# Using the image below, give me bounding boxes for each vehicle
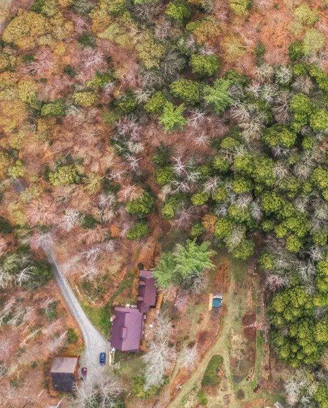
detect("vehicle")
[80,368,87,377]
[99,351,106,364]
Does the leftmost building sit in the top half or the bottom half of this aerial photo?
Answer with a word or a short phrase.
bottom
